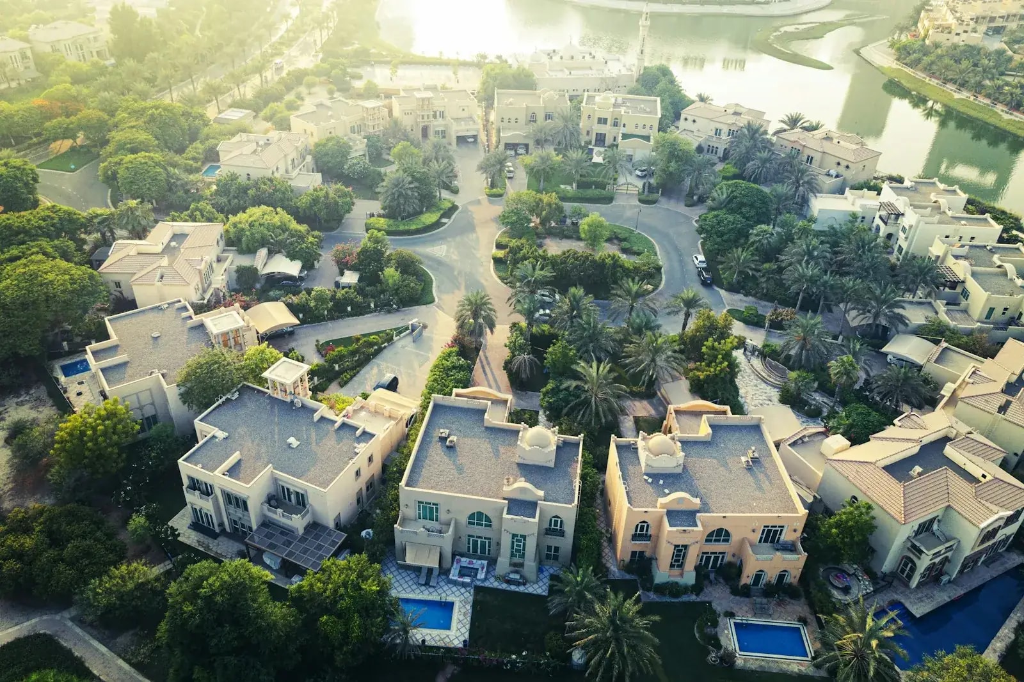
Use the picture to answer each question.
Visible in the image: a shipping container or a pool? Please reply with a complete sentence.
I can see a pool in this picture.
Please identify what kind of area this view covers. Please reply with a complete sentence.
The area seen from above is a residential area.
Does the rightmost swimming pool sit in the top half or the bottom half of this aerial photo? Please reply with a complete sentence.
You can find the rightmost swimming pool in the bottom half.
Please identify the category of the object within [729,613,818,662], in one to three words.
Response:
swimming pool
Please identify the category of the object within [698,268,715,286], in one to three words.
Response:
car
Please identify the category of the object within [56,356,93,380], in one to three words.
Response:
swimming pool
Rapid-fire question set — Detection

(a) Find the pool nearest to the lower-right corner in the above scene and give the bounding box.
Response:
[870,556,1024,673]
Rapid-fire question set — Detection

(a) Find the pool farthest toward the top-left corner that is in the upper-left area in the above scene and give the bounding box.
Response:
[197,163,222,177]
